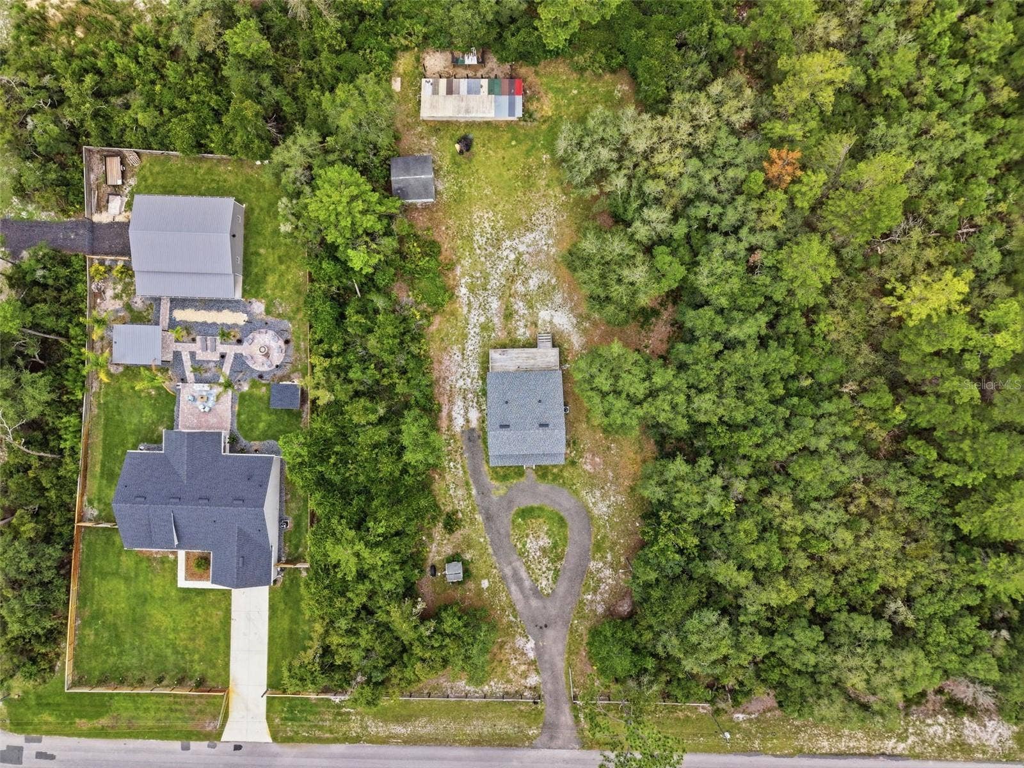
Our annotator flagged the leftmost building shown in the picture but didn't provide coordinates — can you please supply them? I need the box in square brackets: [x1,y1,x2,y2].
[108,325,168,366]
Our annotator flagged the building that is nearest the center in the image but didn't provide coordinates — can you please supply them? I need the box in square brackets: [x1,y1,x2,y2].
[488,333,566,470]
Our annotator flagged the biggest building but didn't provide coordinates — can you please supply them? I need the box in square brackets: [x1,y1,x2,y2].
[112,429,279,589]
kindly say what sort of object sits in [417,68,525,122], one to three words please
barn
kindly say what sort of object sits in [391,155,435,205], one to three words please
shed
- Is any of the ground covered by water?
No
